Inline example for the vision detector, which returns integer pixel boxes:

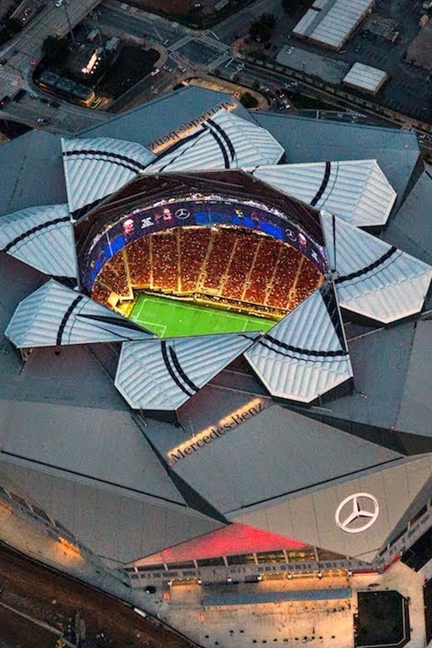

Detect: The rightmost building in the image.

[343,62,389,98]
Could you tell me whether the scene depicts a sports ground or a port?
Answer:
sports ground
